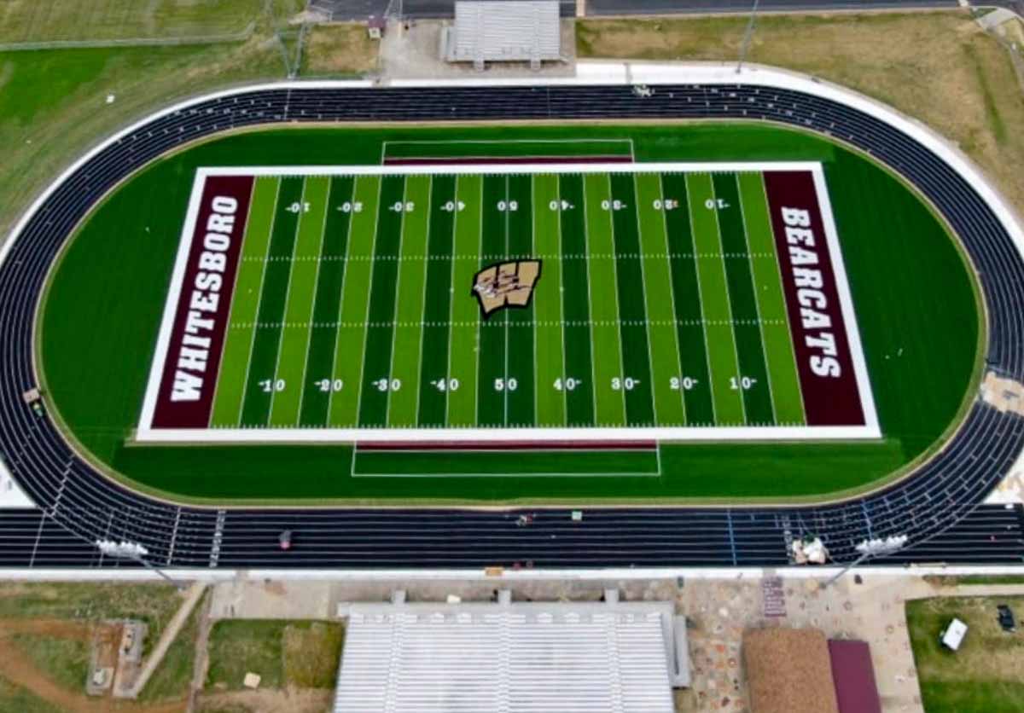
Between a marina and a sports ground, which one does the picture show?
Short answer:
sports ground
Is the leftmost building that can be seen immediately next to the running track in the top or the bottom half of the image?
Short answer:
bottom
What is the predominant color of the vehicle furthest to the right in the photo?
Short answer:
black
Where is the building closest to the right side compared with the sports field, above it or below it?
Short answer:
below it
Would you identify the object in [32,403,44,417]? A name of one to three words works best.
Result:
vehicle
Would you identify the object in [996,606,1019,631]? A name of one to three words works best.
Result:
vehicle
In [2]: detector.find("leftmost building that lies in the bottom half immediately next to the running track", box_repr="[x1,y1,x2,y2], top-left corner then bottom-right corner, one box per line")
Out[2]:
[743,629,839,713]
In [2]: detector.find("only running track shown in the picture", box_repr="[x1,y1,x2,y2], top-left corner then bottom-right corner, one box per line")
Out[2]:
[0,84,1024,569]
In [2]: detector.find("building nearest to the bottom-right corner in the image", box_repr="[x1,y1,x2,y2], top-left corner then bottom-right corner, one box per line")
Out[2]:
[828,640,880,713]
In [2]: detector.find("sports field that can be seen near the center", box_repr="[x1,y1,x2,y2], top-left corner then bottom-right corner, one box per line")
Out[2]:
[151,171,865,428]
